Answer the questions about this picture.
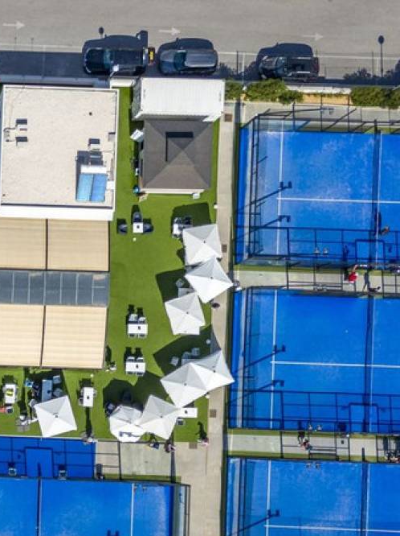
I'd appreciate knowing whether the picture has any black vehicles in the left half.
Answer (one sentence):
Yes, in the left half there is a black vehicle.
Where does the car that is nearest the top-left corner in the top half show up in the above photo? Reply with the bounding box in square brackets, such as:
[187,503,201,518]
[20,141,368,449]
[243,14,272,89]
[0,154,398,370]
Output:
[82,42,155,76]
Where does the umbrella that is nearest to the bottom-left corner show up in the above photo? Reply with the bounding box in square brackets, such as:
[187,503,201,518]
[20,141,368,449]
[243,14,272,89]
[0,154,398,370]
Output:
[32,394,75,437]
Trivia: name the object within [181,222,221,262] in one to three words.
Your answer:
umbrella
